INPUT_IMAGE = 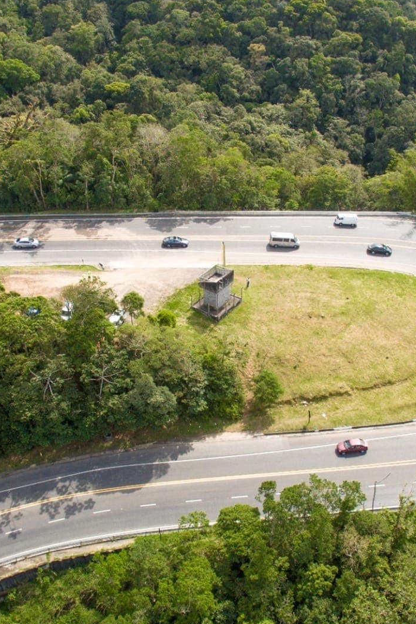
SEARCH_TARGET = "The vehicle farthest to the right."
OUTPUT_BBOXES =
[367,242,393,255]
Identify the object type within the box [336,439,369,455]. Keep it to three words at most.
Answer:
car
